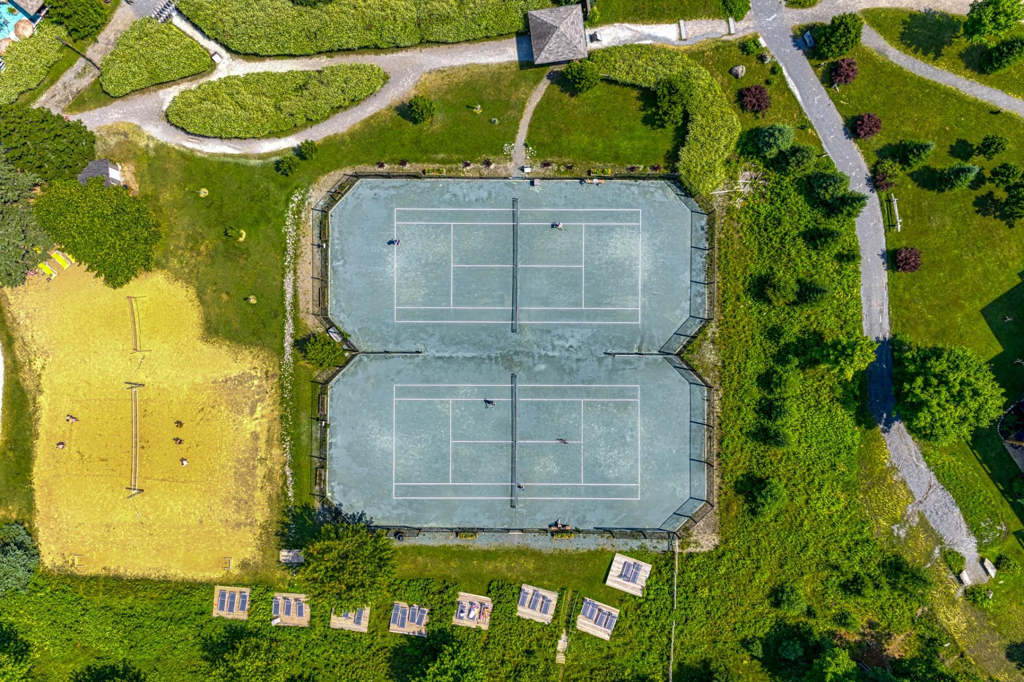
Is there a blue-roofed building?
No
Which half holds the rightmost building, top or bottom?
top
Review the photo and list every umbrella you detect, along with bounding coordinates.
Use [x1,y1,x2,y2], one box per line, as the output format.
[0,36,17,59]
[14,18,39,41]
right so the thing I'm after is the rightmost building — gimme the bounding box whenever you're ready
[528,3,587,70]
